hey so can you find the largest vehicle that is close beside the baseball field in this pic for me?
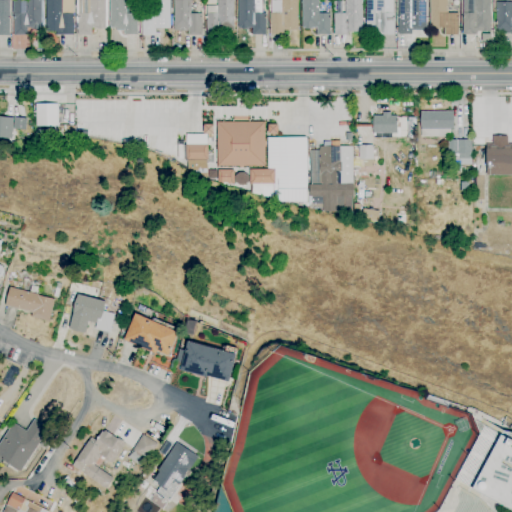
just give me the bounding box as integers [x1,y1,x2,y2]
[210,414,236,428]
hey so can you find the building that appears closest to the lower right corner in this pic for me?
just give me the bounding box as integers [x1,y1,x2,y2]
[472,434,512,508]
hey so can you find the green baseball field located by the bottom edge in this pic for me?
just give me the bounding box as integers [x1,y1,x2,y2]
[224,347,478,512]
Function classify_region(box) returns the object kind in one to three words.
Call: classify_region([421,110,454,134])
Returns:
building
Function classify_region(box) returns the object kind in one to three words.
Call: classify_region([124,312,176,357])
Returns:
house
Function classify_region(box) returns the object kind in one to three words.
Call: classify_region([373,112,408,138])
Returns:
building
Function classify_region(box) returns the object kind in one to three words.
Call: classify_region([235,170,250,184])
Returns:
gazebo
